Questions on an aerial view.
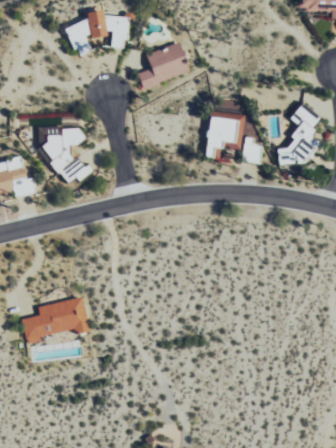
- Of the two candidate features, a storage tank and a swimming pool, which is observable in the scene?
swimming pool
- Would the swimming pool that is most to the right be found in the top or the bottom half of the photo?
top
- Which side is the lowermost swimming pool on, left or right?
left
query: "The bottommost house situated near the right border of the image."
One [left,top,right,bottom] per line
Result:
[278,106,321,166]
